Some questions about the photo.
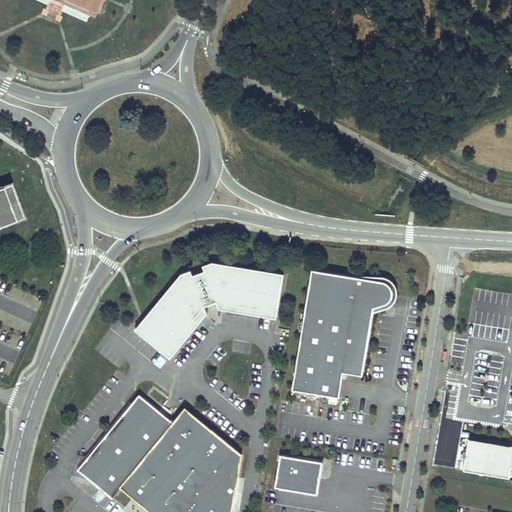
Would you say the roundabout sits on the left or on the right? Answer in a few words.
left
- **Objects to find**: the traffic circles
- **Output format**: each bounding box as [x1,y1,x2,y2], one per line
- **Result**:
[54,72,221,238]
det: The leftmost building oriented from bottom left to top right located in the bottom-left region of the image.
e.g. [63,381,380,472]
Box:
[77,396,171,500]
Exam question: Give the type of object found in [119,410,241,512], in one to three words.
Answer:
building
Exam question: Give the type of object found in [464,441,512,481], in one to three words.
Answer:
building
